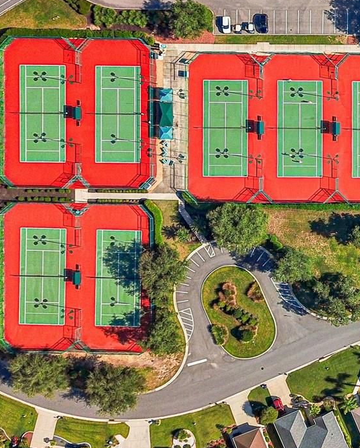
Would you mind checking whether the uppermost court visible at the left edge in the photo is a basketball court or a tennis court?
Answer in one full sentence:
I'd identify the uppermost court visible at the left edge as a tennis court.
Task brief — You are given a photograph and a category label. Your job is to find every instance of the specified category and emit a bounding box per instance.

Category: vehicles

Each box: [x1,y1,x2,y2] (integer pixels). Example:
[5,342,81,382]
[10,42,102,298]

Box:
[222,15,232,34]
[258,13,268,32]
[236,23,243,33]
[248,21,255,31]
[272,393,285,414]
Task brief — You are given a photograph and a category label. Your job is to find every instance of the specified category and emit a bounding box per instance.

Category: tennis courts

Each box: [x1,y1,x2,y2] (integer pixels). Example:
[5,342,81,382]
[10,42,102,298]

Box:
[4,204,79,353]
[188,54,261,202]
[77,38,157,187]
[337,54,360,202]
[261,54,337,202]
[4,38,79,187]
[77,204,152,353]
